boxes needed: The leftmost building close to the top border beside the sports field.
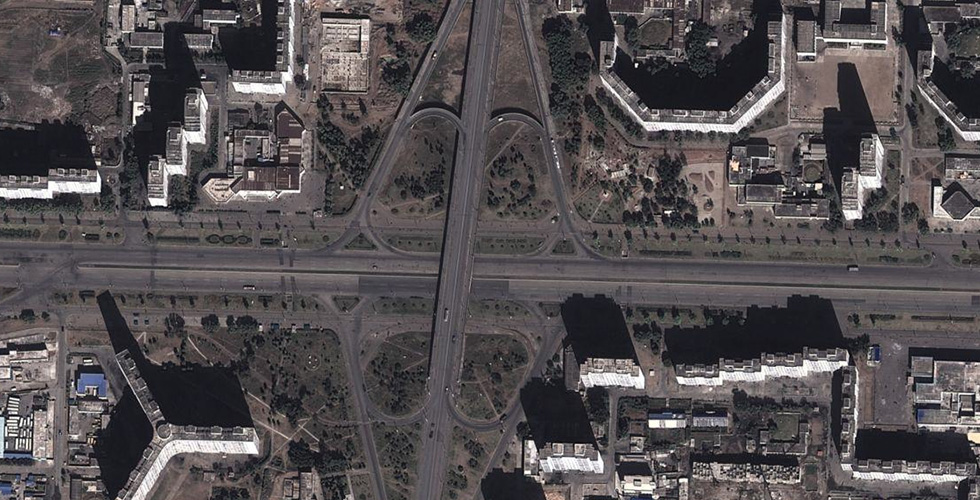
[600,20,786,133]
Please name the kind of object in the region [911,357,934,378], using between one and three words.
building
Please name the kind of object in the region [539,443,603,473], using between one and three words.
building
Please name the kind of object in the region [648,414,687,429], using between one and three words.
shed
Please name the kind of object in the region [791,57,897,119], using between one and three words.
sports field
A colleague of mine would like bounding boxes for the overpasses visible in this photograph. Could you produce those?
[429,0,504,396]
